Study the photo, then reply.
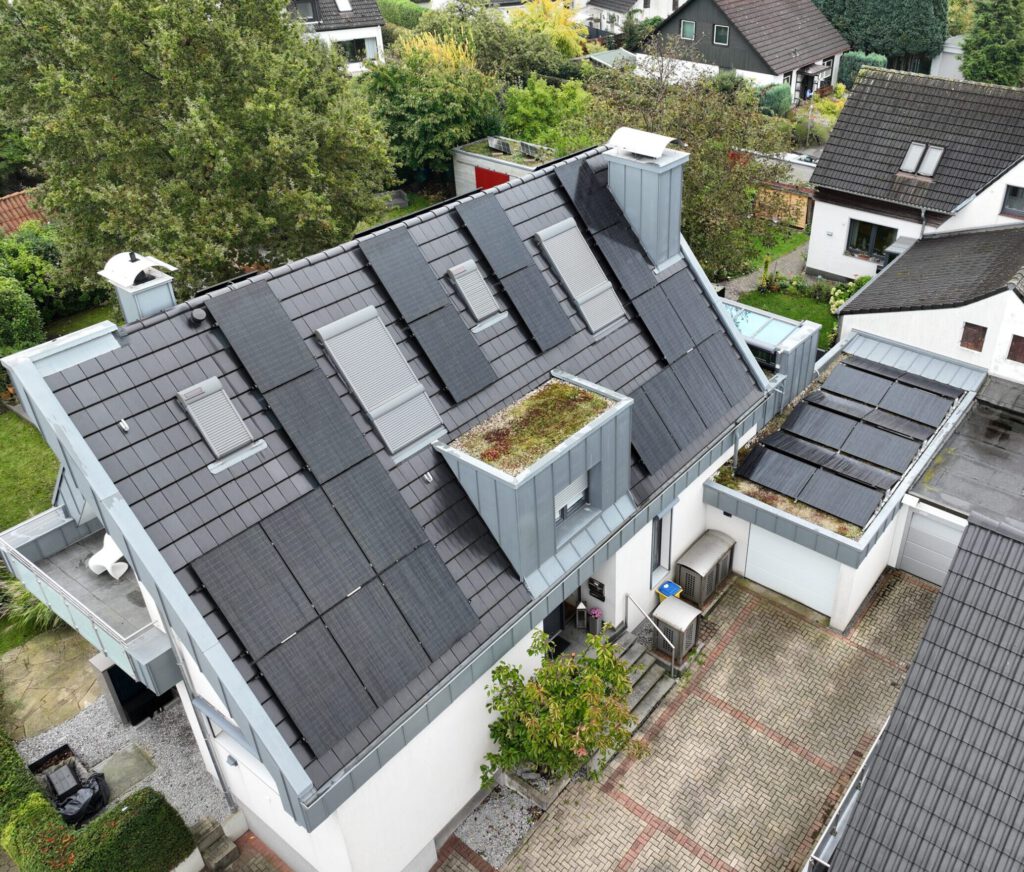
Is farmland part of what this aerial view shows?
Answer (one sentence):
No, farmland can't be seen anywhere here.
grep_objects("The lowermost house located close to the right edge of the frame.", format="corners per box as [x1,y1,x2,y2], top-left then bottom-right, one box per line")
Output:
[802,512,1024,872]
